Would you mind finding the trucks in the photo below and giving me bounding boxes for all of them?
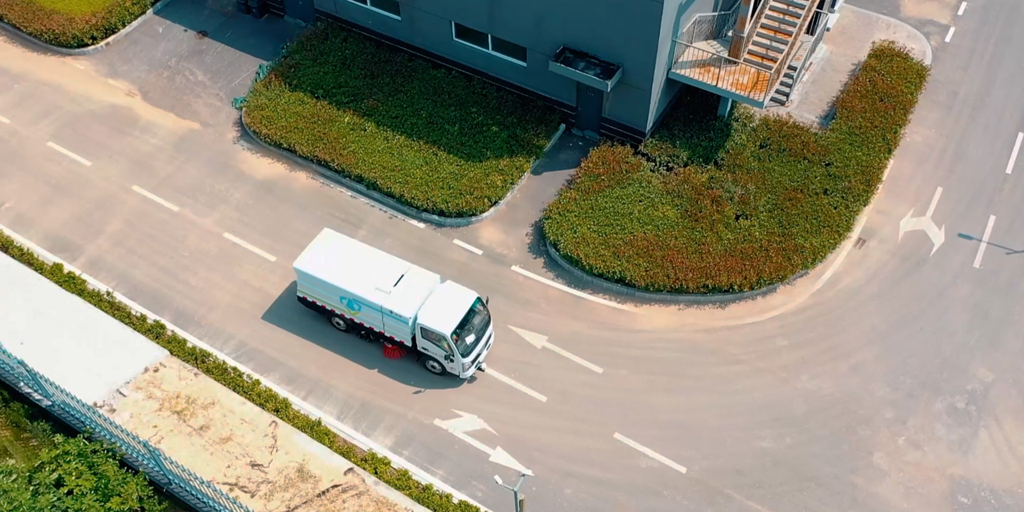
[292,230,497,381]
